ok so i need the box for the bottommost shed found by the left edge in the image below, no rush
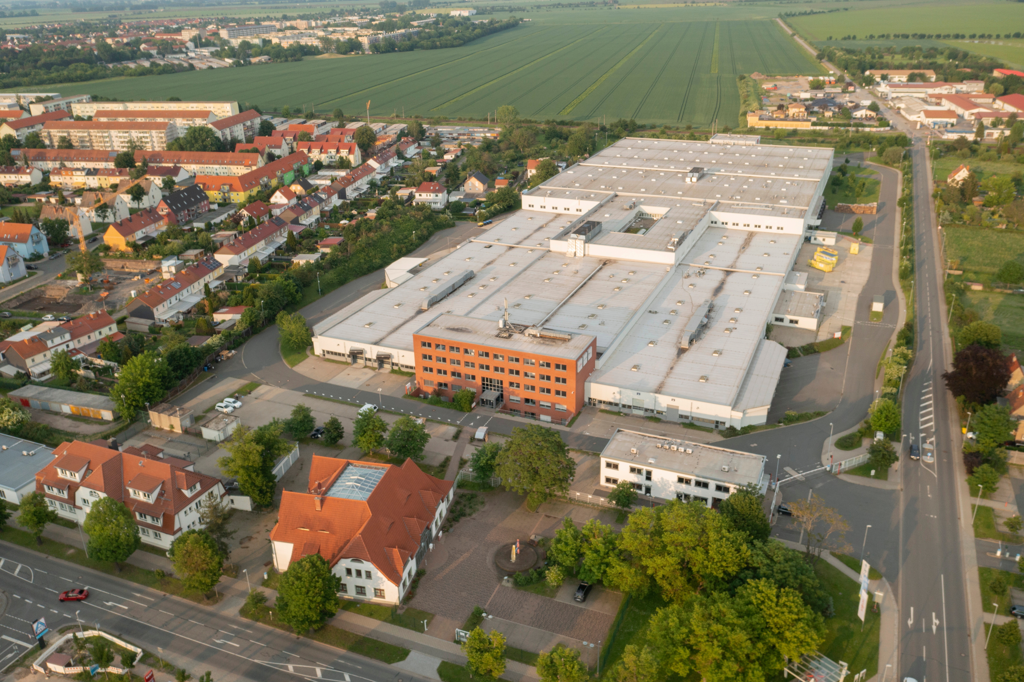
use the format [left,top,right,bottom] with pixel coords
[42,644,75,673]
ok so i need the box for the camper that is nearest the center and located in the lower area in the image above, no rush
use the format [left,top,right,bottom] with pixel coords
[475,424,489,440]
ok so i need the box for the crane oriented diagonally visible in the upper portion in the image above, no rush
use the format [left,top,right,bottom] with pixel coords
[61,173,151,250]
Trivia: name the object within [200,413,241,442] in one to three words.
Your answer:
house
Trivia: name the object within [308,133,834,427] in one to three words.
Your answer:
building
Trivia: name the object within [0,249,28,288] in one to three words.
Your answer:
house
